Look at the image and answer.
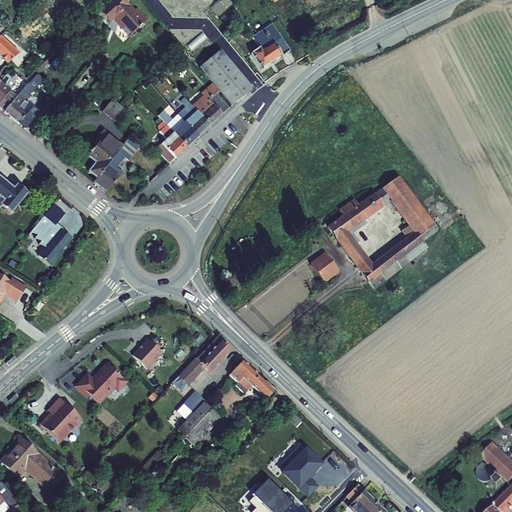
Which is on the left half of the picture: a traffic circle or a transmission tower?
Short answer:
traffic circle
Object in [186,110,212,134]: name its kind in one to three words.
house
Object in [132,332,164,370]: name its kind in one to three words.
house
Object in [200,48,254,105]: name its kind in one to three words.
building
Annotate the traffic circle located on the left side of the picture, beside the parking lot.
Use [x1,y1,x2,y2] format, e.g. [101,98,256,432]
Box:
[84,167,242,330]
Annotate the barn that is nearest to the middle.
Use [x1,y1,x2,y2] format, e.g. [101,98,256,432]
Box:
[309,251,340,282]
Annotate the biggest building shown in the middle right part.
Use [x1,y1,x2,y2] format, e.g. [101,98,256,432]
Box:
[326,176,439,286]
